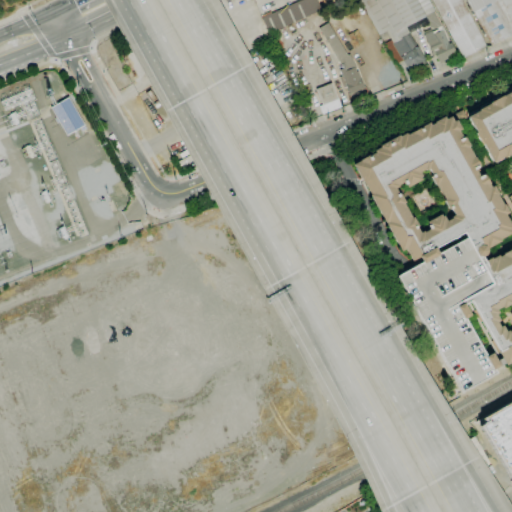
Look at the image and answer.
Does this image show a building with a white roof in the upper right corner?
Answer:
Yes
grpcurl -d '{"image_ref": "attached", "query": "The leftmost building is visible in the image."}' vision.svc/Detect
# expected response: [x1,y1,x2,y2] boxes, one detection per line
[52,96,84,140]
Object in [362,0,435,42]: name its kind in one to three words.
building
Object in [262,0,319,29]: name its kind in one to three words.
shed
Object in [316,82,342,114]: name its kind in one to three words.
building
